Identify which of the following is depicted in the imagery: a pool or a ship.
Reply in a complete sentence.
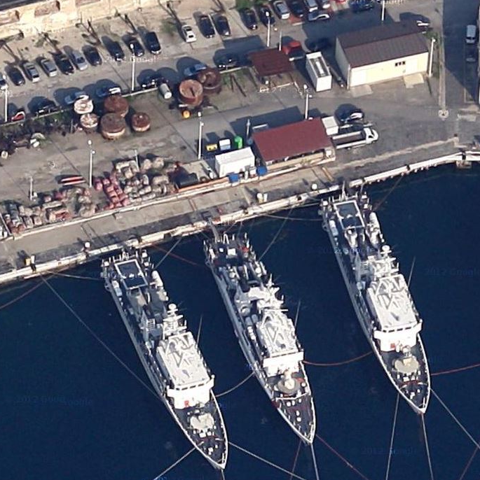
I can see a ship in this picture.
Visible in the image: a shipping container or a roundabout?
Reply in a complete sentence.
I can see a shipping container in this picture.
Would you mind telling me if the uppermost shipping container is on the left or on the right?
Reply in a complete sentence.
You can find the uppermost shipping container on the right side of the picture.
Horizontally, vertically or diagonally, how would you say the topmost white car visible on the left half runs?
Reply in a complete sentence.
In this picture, the topmost white car visible on the left half is oriented diagonally.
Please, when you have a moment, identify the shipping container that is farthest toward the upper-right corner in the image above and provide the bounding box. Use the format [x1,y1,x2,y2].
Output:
[307,53,332,91]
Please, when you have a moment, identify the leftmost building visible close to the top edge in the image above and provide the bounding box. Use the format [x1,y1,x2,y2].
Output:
[334,17,430,97]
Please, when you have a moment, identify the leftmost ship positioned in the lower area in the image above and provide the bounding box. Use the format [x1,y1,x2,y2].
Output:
[104,238,226,468]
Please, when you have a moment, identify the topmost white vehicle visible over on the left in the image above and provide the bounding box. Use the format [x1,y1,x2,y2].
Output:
[178,23,199,44]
